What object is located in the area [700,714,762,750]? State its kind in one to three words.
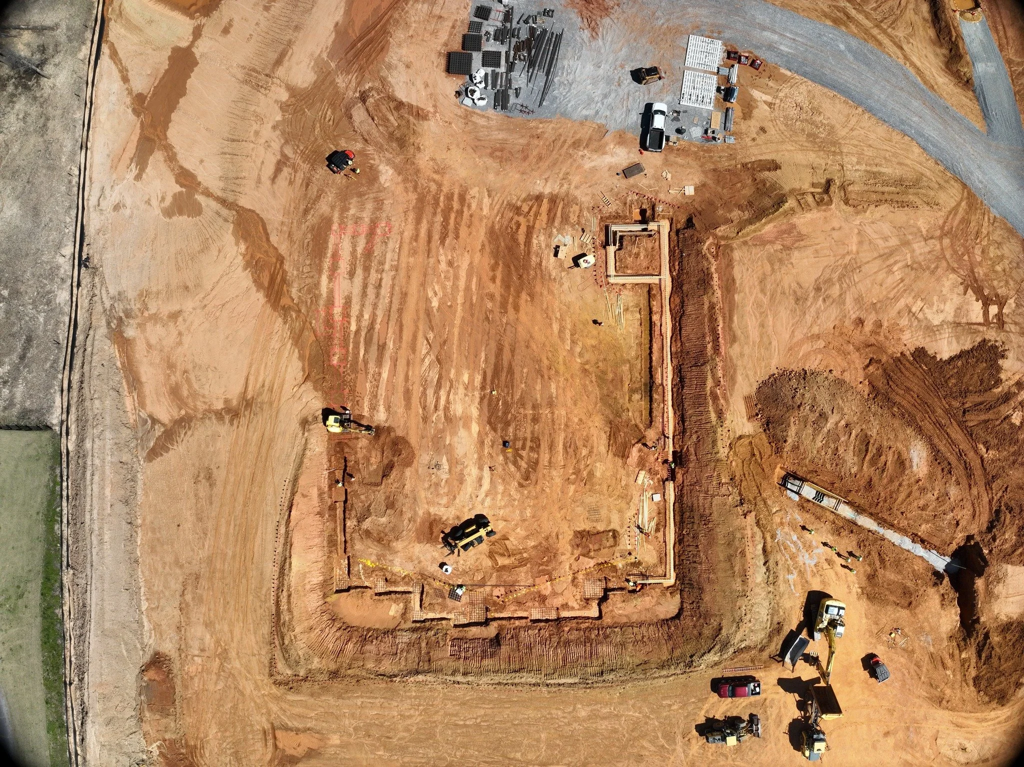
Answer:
work vehicle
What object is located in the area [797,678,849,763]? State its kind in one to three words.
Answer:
truck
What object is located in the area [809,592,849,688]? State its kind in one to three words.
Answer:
work vehicle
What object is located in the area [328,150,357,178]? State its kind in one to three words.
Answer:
vehicle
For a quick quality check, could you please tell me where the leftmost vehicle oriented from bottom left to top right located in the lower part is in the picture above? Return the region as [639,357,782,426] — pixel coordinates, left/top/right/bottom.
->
[443,518,496,559]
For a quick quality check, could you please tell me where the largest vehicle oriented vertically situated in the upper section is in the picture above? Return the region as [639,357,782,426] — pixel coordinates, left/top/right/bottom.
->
[645,102,669,155]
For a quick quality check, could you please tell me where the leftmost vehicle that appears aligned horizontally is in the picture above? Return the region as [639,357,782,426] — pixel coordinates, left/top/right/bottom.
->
[326,416,377,435]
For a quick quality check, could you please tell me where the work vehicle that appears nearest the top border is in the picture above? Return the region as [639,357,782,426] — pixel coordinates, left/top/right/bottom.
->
[639,63,667,85]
